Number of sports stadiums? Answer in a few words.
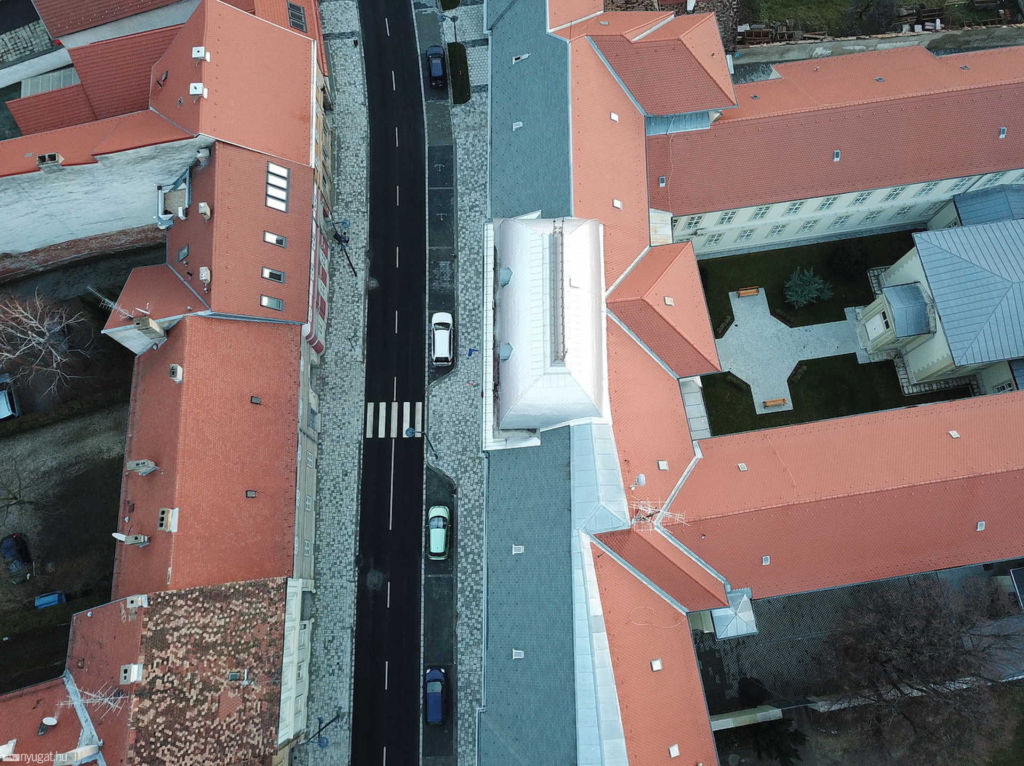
zero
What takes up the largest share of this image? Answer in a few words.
buildings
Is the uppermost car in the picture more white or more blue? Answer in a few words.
blue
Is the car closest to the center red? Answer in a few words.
No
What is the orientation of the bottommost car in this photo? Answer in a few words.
vertically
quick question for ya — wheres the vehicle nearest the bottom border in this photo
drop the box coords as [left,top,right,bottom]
[421,666,449,728]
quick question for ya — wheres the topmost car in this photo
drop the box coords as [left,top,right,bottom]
[424,47,447,88]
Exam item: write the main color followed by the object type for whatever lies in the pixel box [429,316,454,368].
white car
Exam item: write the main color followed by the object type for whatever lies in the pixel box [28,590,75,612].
blue trailer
